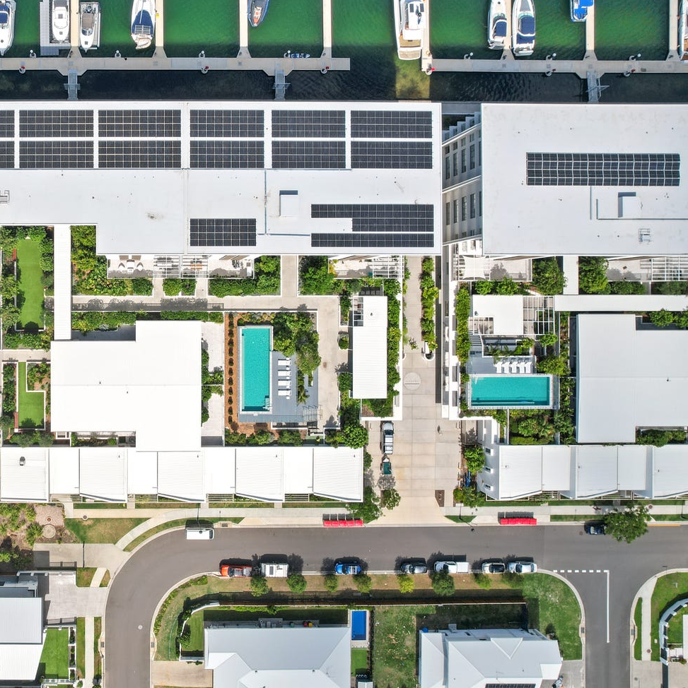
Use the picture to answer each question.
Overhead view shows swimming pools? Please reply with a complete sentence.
Yes, you can see a swimming pool in this photo.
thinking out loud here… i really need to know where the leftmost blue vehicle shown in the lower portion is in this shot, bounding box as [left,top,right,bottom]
[334,562,362,576]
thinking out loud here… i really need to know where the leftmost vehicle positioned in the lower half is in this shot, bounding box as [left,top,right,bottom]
[184,527,215,540]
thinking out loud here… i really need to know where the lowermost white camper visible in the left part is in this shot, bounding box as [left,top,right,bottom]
[255,561,289,580]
